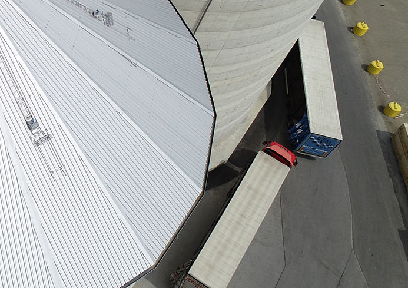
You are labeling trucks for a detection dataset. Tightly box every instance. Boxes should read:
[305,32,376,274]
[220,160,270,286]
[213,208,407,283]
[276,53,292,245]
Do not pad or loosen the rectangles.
[165,135,300,288]
[282,11,343,162]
